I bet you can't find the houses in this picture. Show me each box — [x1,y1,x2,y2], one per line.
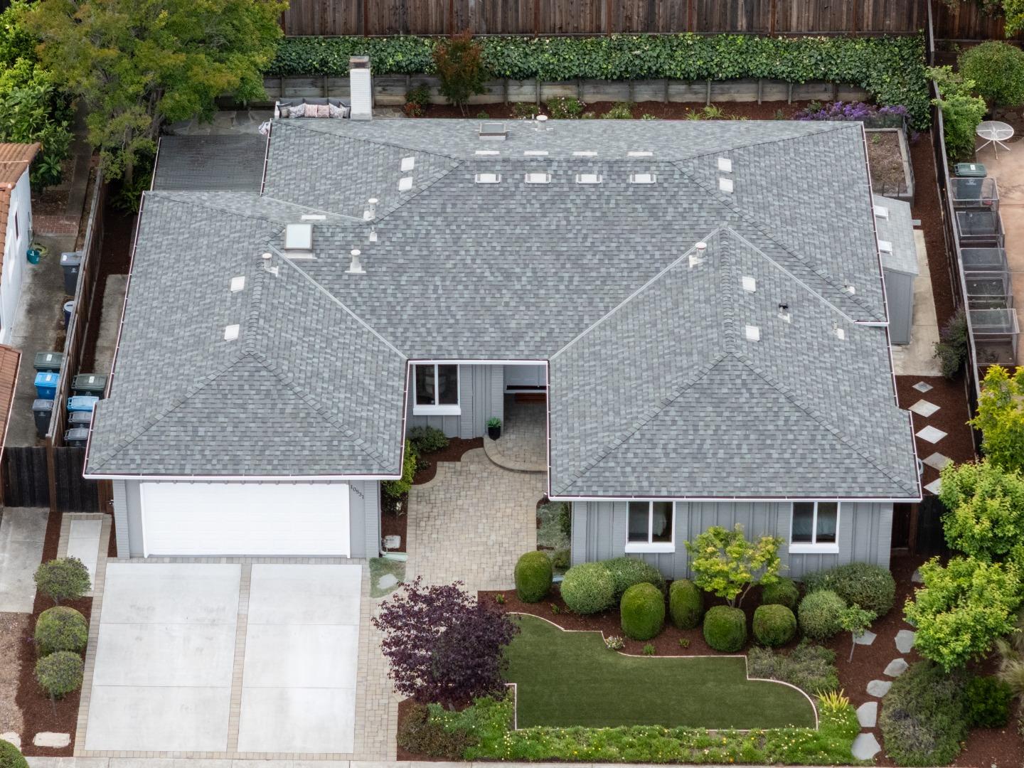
[0,141,40,484]
[83,50,921,581]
